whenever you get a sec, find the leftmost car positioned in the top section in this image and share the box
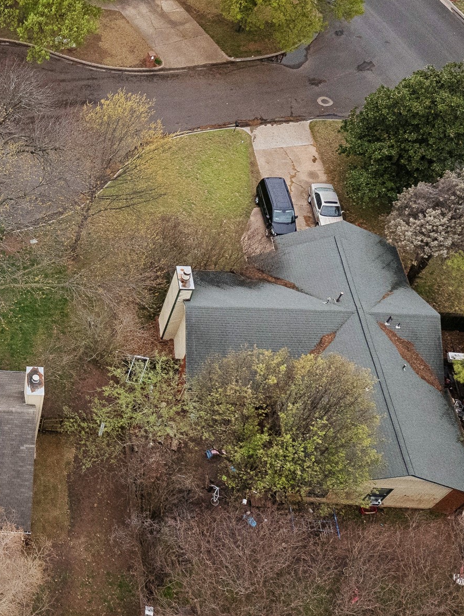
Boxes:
[257,173,301,236]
